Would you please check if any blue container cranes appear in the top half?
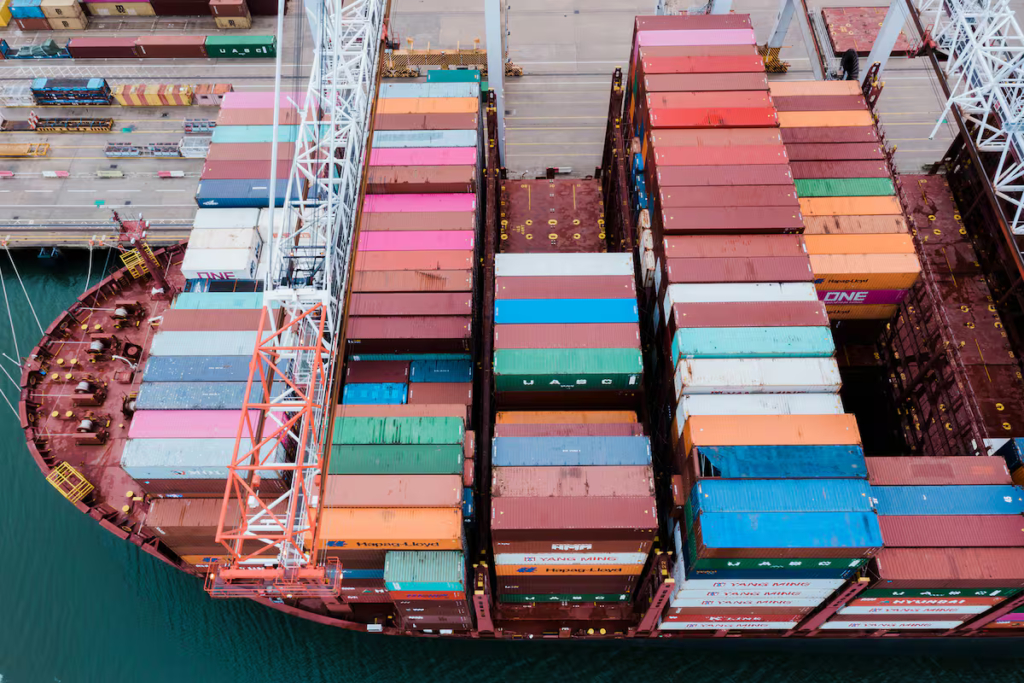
No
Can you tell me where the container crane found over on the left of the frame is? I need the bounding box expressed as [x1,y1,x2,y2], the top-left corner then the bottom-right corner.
[202,0,529,601]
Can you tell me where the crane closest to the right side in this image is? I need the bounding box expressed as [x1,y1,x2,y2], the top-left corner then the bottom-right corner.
[658,0,1024,309]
